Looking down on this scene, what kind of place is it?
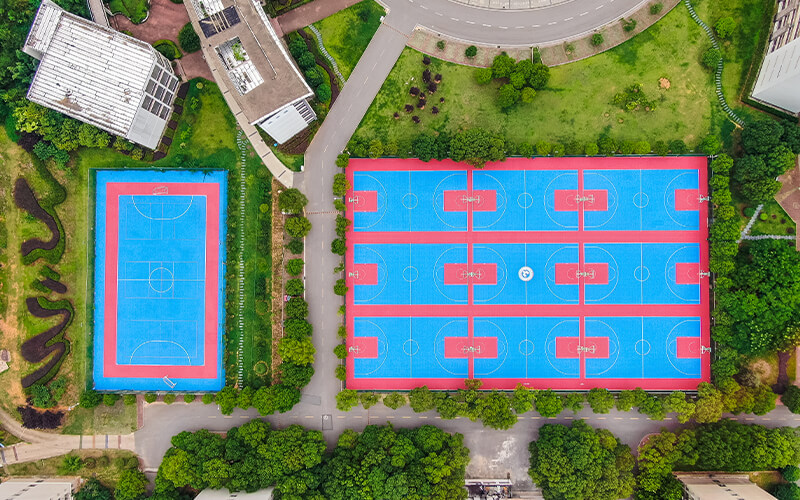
sports ground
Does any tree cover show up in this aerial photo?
Yes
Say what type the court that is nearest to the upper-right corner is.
basketball court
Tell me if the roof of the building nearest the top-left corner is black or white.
white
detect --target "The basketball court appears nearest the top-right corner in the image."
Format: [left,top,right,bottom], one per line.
[583,169,699,231]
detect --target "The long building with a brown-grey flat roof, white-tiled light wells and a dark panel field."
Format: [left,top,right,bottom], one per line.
[189,0,320,145]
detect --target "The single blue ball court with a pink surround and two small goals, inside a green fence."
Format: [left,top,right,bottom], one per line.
[94,170,227,391]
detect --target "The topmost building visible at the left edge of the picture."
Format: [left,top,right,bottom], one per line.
[24,0,177,147]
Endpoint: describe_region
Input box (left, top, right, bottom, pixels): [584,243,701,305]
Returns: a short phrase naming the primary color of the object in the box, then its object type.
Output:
blue basketball court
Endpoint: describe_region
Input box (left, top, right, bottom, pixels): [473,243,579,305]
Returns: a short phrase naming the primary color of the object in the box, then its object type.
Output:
blue basketball court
